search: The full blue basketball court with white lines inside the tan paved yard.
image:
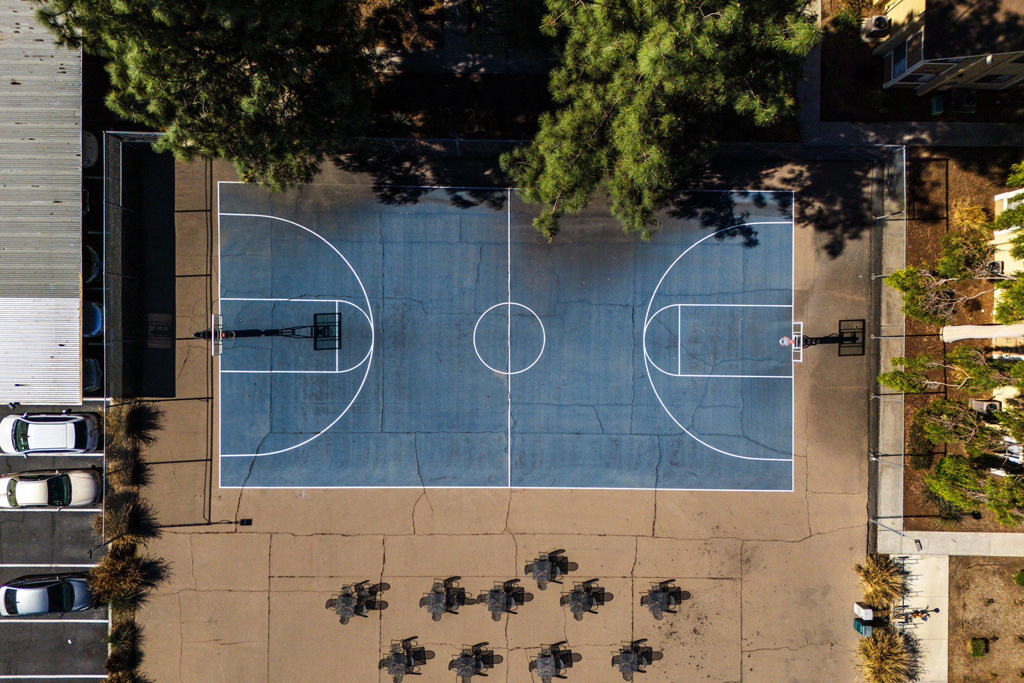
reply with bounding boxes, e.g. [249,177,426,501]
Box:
[218,181,794,491]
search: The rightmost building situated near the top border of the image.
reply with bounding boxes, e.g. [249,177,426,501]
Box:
[874,0,1024,96]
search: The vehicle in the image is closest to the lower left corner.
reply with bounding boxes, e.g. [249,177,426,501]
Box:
[1,570,105,619]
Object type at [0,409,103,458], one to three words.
car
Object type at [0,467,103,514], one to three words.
car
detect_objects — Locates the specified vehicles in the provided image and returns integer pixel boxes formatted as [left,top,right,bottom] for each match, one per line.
[80,301,109,339]
[0,467,103,514]
[82,246,108,285]
[1,570,105,619]
[0,409,103,458]
[83,131,104,173]
[84,356,108,394]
